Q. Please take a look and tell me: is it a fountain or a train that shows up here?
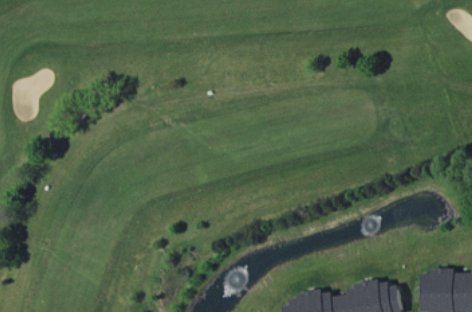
fountain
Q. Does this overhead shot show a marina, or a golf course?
golf course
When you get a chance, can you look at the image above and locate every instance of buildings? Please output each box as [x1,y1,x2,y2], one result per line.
[420,268,472,312]
[282,278,404,312]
